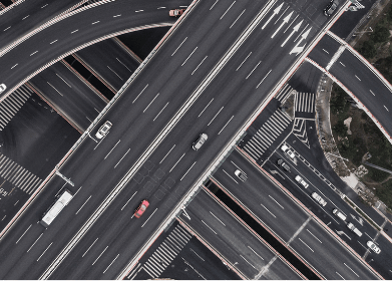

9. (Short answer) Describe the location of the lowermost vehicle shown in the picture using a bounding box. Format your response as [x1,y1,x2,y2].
[365,240,381,255]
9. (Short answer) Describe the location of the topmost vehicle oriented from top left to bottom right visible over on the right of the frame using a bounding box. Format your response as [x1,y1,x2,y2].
[279,144,296,159]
